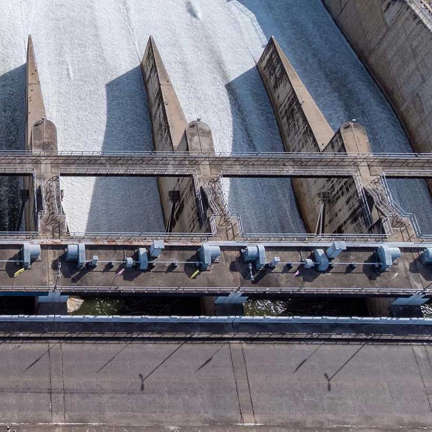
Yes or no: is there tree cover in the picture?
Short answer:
No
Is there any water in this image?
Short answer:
Yes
